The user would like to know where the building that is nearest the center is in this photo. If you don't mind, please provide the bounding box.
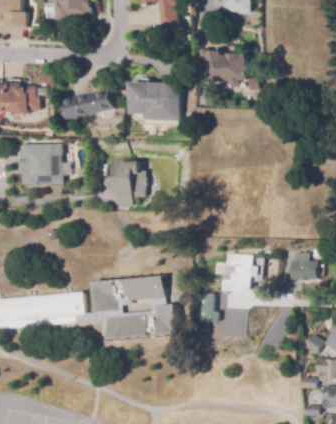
[107,162,148,210]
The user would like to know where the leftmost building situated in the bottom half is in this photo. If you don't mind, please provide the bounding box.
[0,292,84,320]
